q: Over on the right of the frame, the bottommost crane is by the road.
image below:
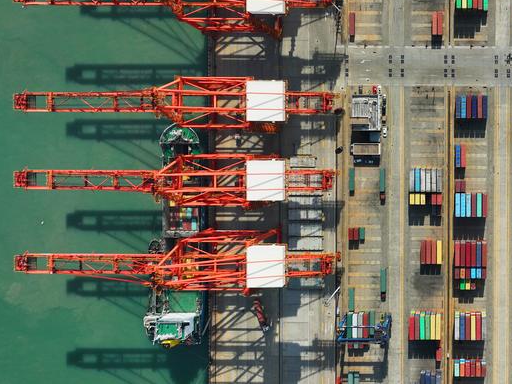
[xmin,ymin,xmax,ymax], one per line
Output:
[338,310,392,344]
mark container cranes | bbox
[12,0,338,47]
[12,143,336,209]
[12,215,336,294]
[12,69,336,140]
[338,310,392,344]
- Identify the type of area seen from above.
port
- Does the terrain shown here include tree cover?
No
